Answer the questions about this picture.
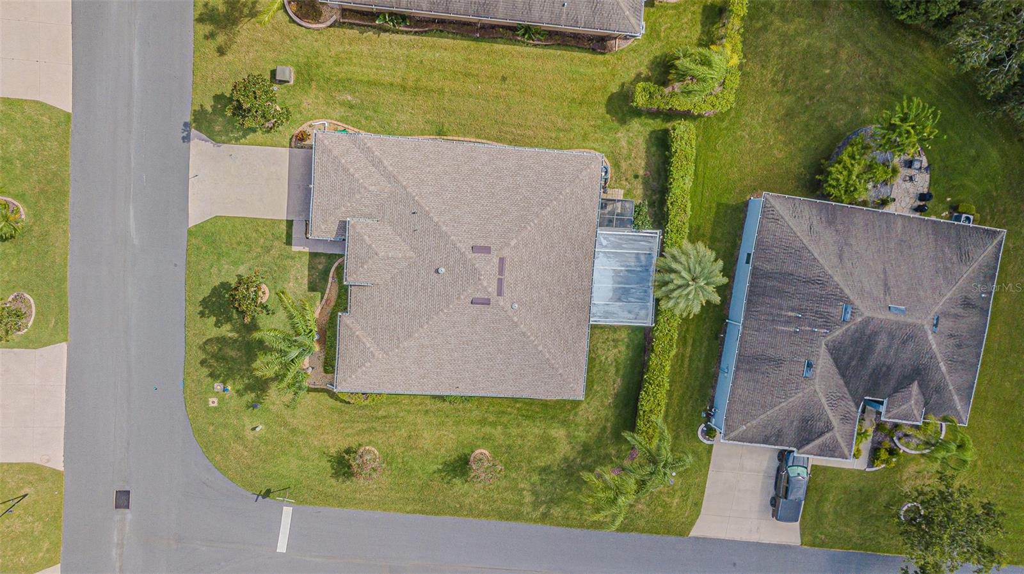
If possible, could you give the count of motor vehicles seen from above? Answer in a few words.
one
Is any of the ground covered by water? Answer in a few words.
No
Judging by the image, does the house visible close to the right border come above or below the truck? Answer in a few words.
above it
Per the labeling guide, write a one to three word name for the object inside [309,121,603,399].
house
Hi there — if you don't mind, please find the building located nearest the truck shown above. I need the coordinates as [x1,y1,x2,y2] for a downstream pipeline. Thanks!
[711,190,1006,461]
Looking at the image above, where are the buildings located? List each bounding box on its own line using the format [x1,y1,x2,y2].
[320,0,645,50]
[309,121,603,399]
[711,190,1006,461]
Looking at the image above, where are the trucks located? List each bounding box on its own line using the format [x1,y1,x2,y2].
[770,448,810,523]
